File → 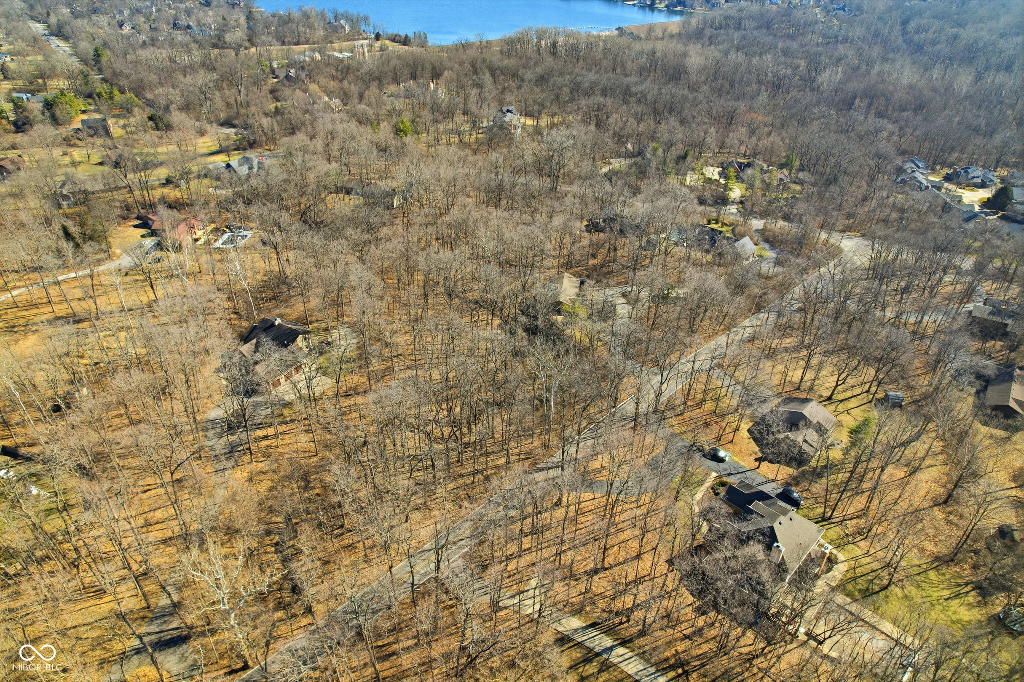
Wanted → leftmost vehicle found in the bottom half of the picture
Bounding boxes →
[701,445,729,462]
